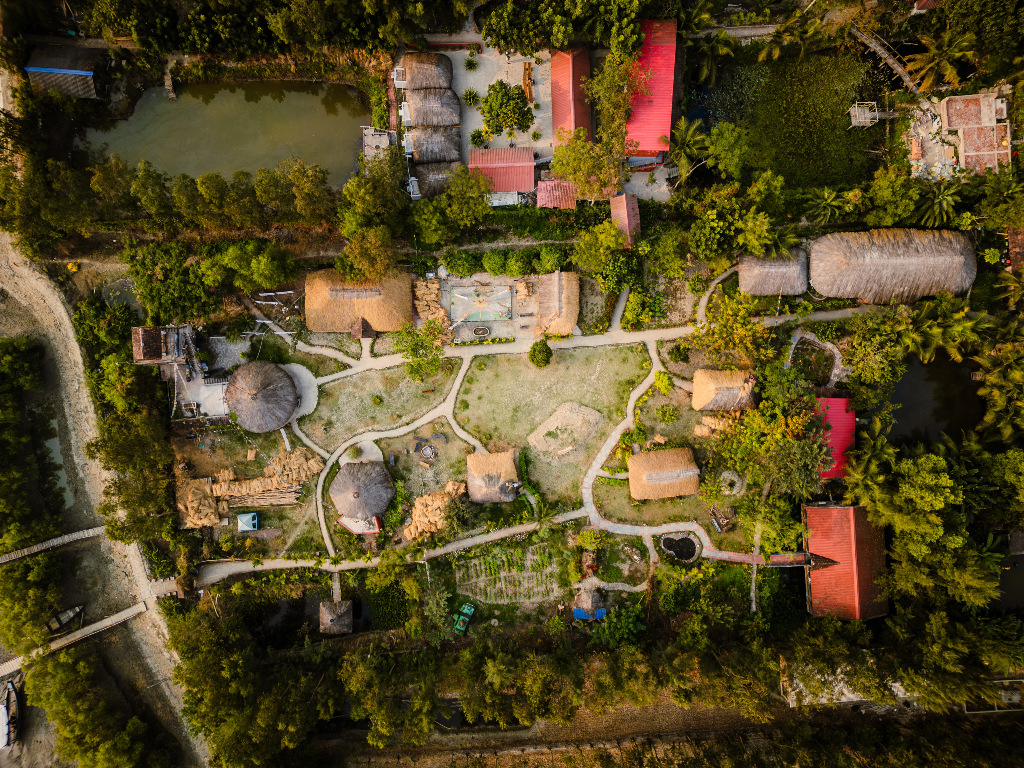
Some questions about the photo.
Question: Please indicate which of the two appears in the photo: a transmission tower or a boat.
boat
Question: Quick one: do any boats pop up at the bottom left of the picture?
Yes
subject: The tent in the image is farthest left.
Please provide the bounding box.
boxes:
[237,513,259,532]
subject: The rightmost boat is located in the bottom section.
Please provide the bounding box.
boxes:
[53,602,90,633]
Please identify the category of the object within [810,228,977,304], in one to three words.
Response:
building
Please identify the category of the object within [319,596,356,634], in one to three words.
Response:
gazebo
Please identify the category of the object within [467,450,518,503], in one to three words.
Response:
shed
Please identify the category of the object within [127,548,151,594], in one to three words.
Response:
bridge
